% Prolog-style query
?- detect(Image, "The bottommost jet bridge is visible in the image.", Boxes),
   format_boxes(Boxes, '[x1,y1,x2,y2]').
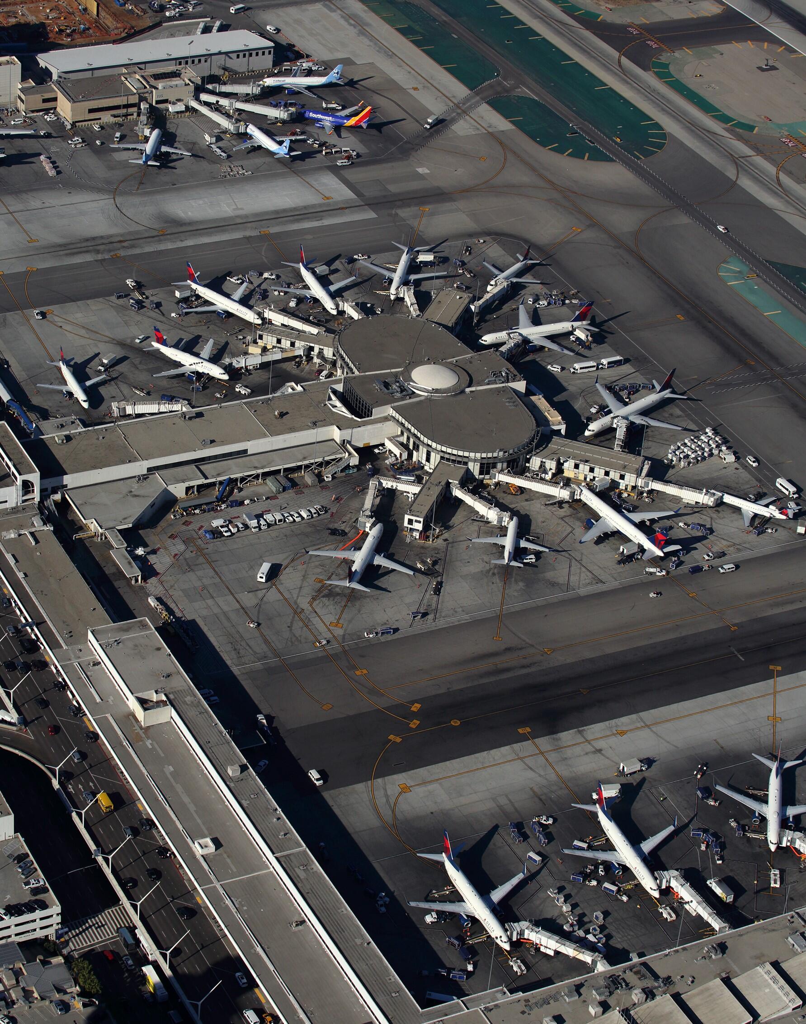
[511,925,605,973]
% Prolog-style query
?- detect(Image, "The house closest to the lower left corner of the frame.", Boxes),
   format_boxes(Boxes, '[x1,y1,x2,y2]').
[16,951,84,1013]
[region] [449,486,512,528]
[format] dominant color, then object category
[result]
white jet bridge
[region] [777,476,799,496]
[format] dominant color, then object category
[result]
white vehicle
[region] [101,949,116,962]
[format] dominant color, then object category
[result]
red vehicle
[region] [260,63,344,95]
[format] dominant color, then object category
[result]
white airplane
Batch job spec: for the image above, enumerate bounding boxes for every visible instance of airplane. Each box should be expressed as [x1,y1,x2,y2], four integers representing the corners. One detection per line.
[482,248,543,293]
[579,488,681,559]
[714,742,806,854]
[109,129,192,163]
[358,235,449,302]
[269,248,358,317]
[175,265,262,326]
[701,488,798,524]
[298,104,373,134]
[583,371,687,440]
[141,327,230,384]
[33,350,108,411]
[408,833,528,953]
[260,63,344,95]
[477,299,598,353]
[232,122,308,156]
[470,516,553,566]
[309,524,419,588]
[562,785,680,901]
